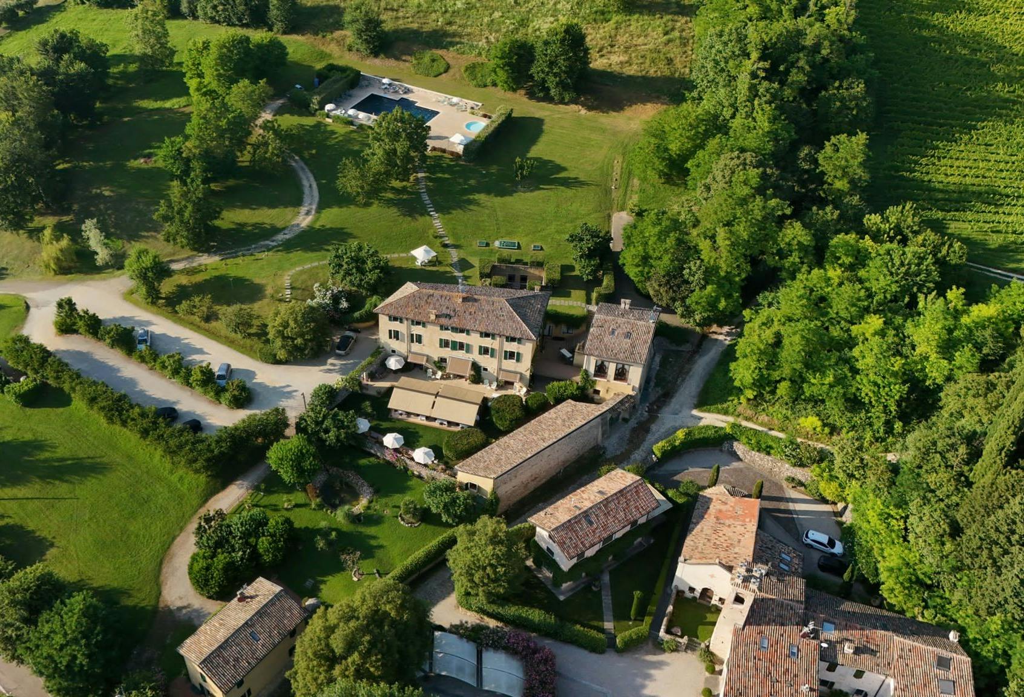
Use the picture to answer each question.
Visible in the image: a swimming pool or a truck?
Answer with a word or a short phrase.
swimming pool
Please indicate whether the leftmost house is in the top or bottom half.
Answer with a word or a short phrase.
bottom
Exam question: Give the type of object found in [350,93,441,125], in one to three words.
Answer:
swimming pool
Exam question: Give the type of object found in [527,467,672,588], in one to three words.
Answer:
house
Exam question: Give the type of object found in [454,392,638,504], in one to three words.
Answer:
barn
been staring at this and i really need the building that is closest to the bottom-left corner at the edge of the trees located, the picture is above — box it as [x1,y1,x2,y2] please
[176,575,310,697]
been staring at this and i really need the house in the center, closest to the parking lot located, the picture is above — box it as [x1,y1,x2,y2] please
[373,277,551,389]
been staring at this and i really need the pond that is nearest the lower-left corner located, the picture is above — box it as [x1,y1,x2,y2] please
[312,465,369,513]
